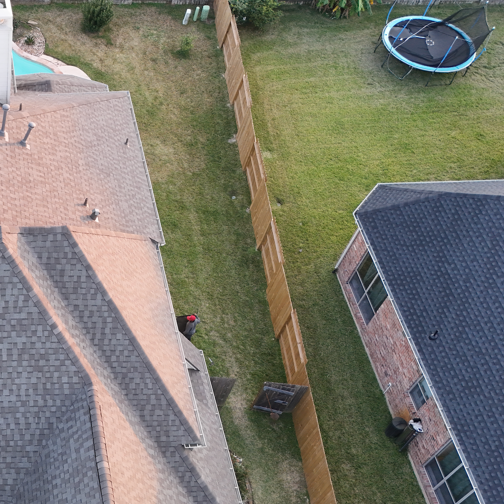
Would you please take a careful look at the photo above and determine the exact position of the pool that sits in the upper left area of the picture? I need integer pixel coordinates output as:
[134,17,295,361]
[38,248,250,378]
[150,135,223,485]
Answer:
[13,39,64,75]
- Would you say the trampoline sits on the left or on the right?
right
